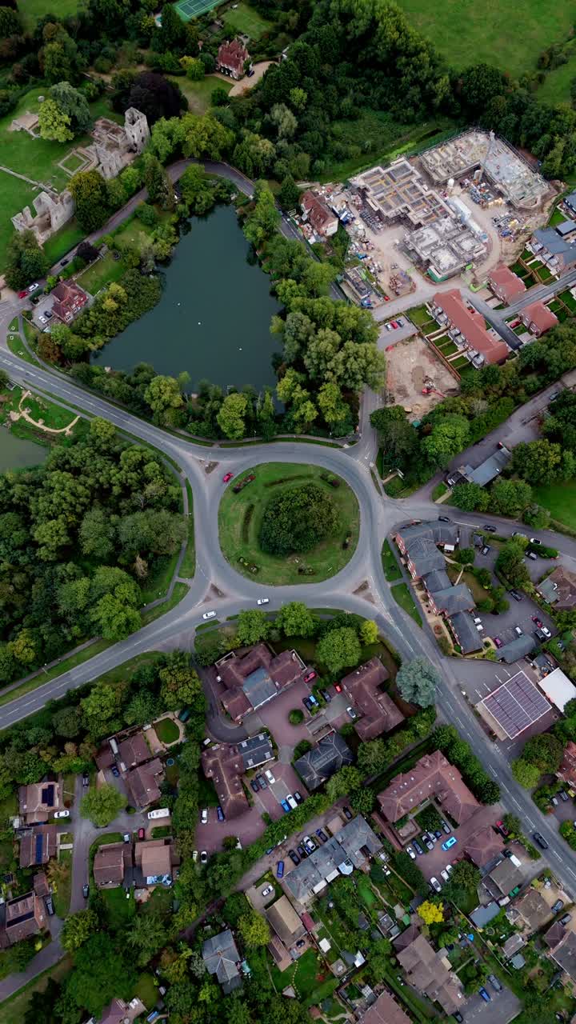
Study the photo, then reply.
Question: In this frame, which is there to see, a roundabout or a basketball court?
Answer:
roundabout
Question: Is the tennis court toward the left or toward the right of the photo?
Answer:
left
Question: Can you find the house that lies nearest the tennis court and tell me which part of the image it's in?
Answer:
top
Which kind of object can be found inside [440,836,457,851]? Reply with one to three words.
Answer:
vehicle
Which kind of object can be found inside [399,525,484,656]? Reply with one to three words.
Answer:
building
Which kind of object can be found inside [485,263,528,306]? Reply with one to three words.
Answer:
house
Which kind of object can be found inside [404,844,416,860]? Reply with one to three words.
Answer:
vehicle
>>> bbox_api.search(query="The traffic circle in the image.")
[178,440,387,622]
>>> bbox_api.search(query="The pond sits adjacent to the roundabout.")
[90,204,285,396]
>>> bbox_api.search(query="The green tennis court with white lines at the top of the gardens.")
[174,0,225,21]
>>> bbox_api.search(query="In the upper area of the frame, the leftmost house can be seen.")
[50,281,90,324]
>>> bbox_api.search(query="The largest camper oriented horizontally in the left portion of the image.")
[147,807,171,819]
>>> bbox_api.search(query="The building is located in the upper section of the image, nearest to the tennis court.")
[214,37,253,83]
